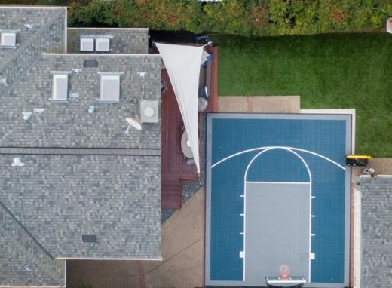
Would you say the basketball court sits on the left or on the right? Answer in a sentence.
The basketball court sits on the right side.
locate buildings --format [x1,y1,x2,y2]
[0,4,162,288]
[354,174,392,288]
